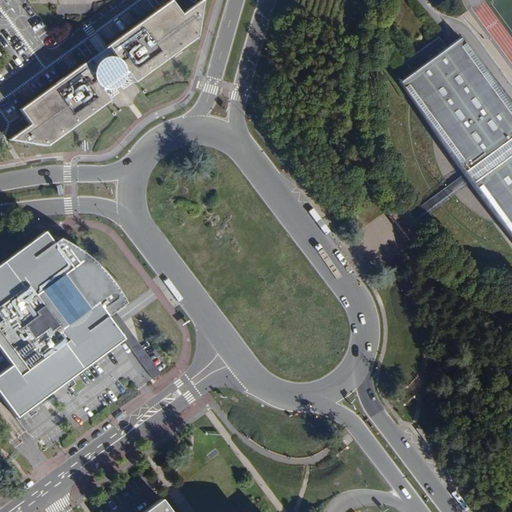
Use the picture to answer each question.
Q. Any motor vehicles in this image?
Yes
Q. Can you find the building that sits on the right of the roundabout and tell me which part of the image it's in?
top right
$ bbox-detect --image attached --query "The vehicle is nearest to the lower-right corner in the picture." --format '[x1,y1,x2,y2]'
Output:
[450,488,472,512]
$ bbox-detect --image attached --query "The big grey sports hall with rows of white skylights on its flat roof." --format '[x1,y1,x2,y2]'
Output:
[399,38,512,240]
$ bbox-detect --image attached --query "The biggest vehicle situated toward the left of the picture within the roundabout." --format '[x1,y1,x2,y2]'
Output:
[164,276,186,303]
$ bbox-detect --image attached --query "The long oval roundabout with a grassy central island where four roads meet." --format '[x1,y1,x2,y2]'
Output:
[78,75,400,494]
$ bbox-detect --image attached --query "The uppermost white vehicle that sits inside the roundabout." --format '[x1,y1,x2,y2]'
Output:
[307,208,331,236]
